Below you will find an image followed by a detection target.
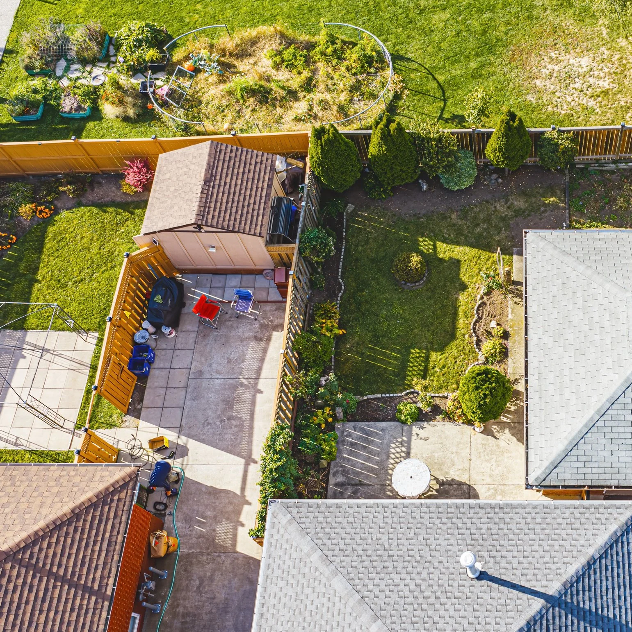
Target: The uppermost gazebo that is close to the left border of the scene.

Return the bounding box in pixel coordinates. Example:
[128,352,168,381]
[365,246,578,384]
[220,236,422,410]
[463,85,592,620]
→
[0,308,86,424]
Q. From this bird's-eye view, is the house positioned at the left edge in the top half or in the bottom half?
bottom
